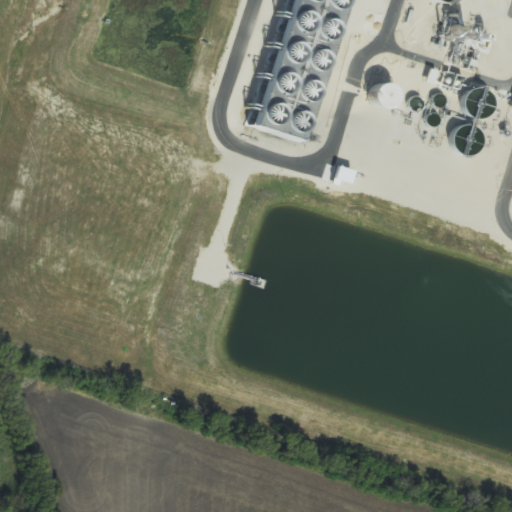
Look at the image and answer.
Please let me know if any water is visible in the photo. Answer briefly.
Yes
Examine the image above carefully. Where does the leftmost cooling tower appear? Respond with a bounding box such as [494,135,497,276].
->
[242,0,356,146]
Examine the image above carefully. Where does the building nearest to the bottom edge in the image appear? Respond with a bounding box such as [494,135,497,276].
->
[332,165,358,186]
